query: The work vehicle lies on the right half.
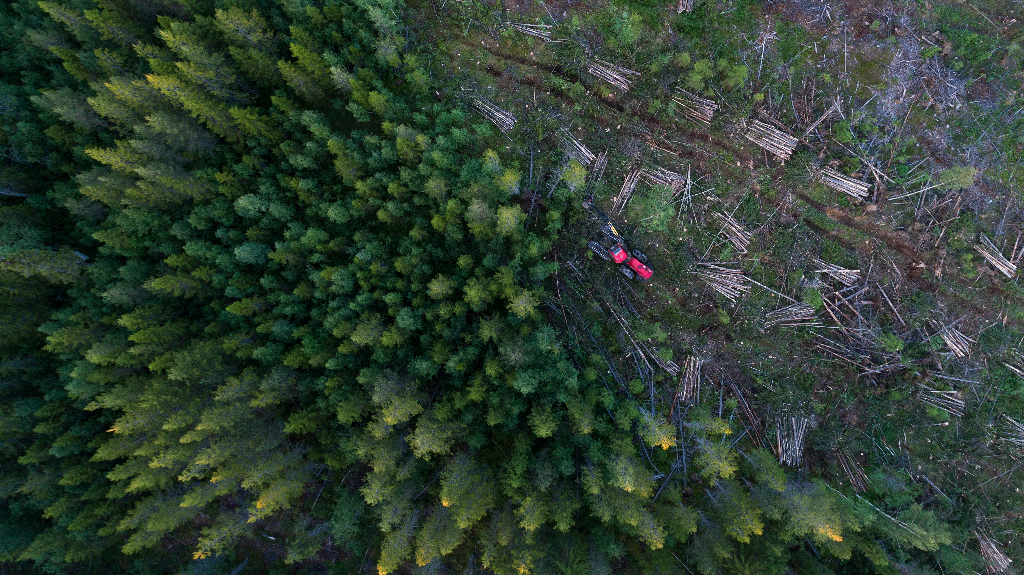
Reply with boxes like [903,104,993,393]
[582,194,654,281]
